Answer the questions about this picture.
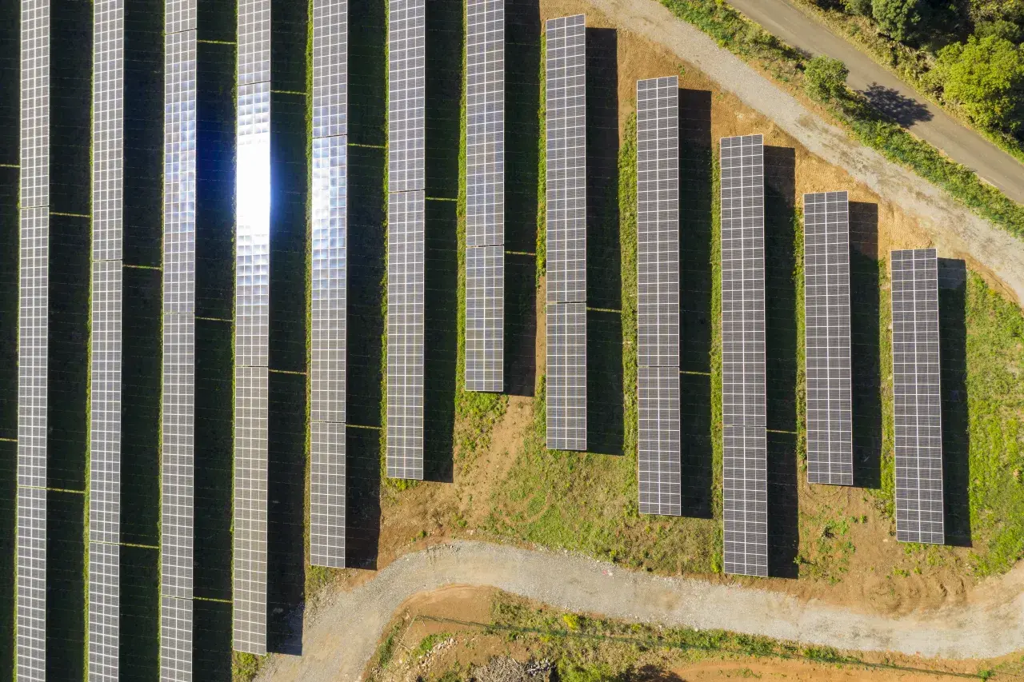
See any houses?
No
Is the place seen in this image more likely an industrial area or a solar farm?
solar farm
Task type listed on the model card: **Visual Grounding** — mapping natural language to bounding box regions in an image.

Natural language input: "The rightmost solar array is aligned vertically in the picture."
[893,248,942,545]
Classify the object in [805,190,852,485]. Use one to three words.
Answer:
solar array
